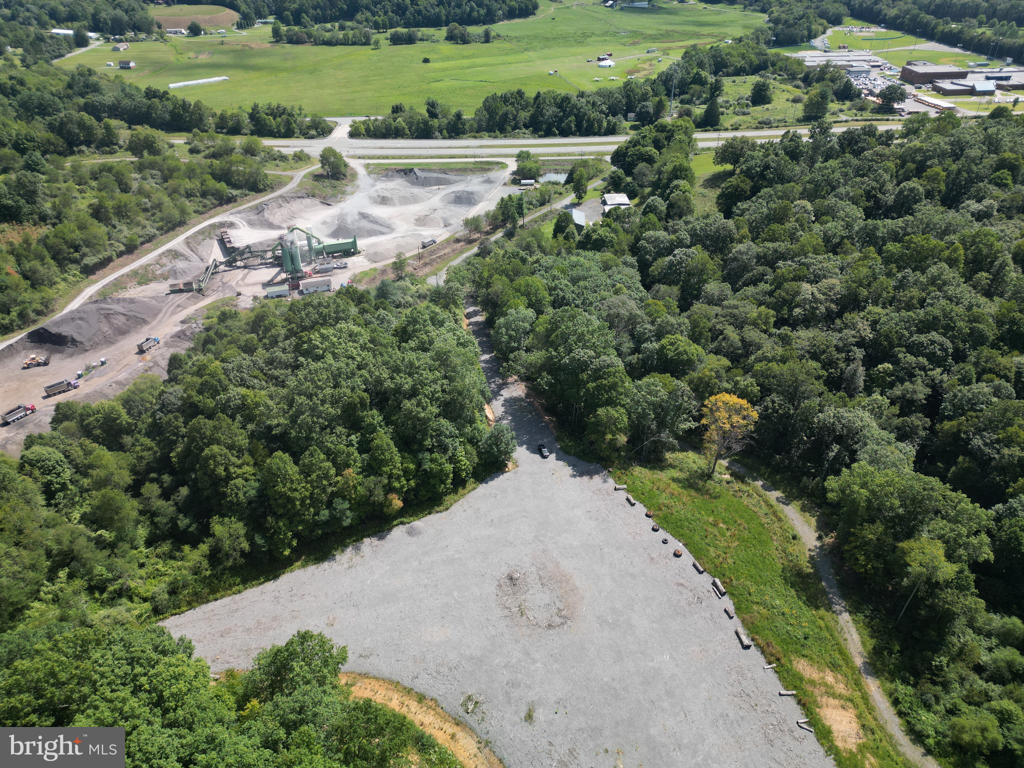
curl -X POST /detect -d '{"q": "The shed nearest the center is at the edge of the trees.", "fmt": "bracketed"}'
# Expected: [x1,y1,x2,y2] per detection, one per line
[534,209,587,236]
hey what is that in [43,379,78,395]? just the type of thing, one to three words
vehicle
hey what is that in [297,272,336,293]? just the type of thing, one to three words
building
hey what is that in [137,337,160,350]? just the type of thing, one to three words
vehicle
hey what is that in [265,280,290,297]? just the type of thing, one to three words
shed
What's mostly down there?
trees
